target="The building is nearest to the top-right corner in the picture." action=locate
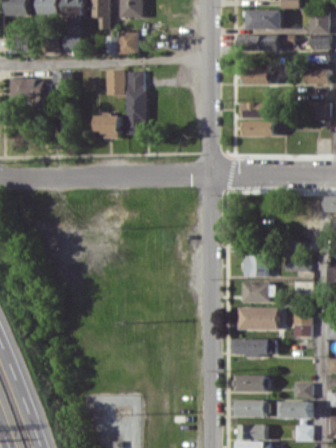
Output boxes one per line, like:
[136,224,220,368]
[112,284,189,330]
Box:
[308,18,332,36]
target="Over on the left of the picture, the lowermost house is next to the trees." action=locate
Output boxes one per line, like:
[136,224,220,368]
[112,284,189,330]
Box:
[93,114,122,136]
